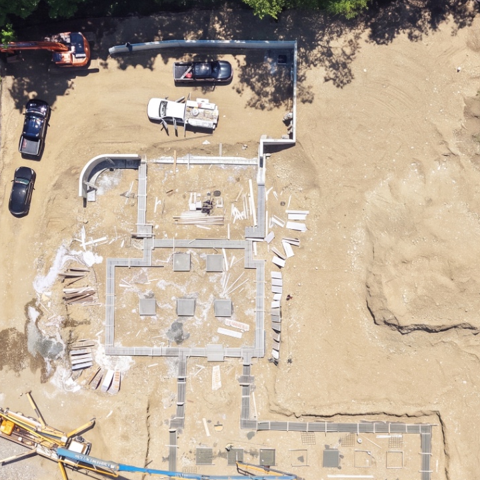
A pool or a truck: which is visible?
truck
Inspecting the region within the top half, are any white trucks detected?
Yes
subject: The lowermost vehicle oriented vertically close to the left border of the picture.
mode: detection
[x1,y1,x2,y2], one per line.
[7,165,34,216]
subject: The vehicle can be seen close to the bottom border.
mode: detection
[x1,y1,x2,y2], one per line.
[0,389,299,480]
